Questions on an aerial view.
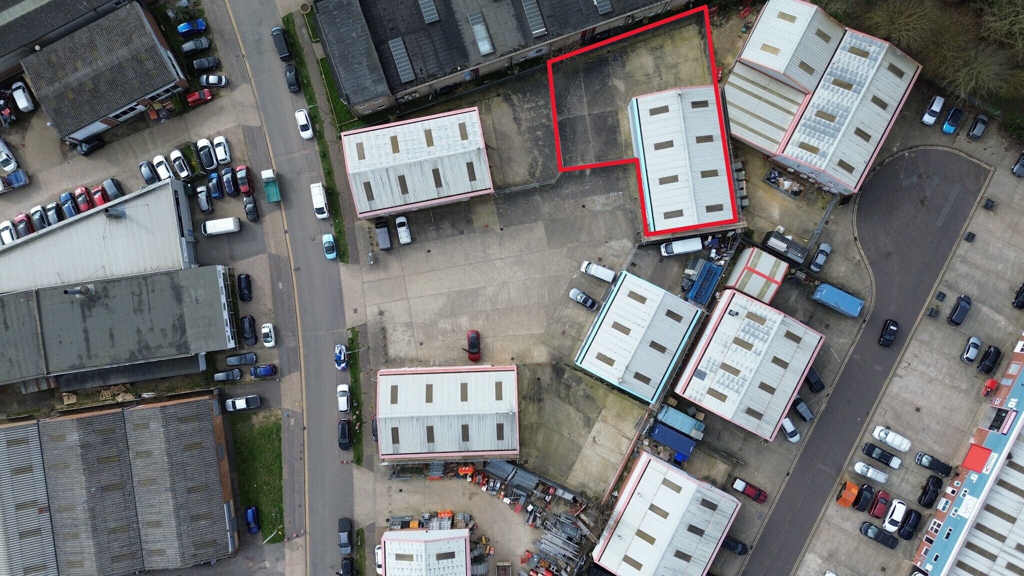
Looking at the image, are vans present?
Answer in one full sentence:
Yes, this view includes a van.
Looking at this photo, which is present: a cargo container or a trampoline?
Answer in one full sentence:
This aerial view contains a cargo container.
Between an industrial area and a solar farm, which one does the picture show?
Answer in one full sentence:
This looks like an industrial area.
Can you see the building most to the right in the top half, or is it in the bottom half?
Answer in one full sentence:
The bottom half of the photo is where the building most to the right is.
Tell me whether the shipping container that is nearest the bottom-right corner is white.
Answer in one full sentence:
No, the shipping container that is nearest the bottom-right corner is actually blue.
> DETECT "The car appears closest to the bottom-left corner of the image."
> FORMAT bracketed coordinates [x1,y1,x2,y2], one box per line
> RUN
[244,505,261,533]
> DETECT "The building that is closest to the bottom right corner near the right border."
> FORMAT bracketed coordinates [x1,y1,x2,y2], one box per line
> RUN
[903,342,1024,576]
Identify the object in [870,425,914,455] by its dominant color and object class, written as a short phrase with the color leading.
white truck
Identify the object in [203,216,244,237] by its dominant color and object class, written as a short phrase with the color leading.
white vehicle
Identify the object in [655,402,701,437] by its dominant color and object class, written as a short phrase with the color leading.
blue shipping container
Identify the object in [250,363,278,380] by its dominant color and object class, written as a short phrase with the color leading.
blue car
